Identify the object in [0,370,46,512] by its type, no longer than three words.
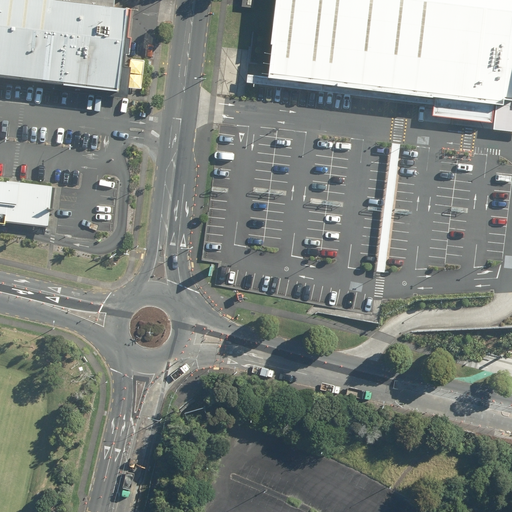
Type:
sports field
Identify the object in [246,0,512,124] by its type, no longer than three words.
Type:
building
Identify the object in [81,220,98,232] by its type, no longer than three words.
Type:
vehicle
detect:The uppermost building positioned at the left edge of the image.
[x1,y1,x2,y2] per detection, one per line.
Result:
[0,0,138,96]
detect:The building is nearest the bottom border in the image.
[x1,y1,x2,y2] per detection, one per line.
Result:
[0,180,52,226]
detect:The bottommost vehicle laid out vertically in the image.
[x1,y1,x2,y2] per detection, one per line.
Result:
[121,472,134,498]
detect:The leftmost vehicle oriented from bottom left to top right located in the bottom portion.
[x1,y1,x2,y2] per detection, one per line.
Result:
[164,362,191,384]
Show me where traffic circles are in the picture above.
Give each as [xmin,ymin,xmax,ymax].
[130,306,172,348]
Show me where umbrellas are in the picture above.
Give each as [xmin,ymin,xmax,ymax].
[128,74,143,89]
[130,59,145,74]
